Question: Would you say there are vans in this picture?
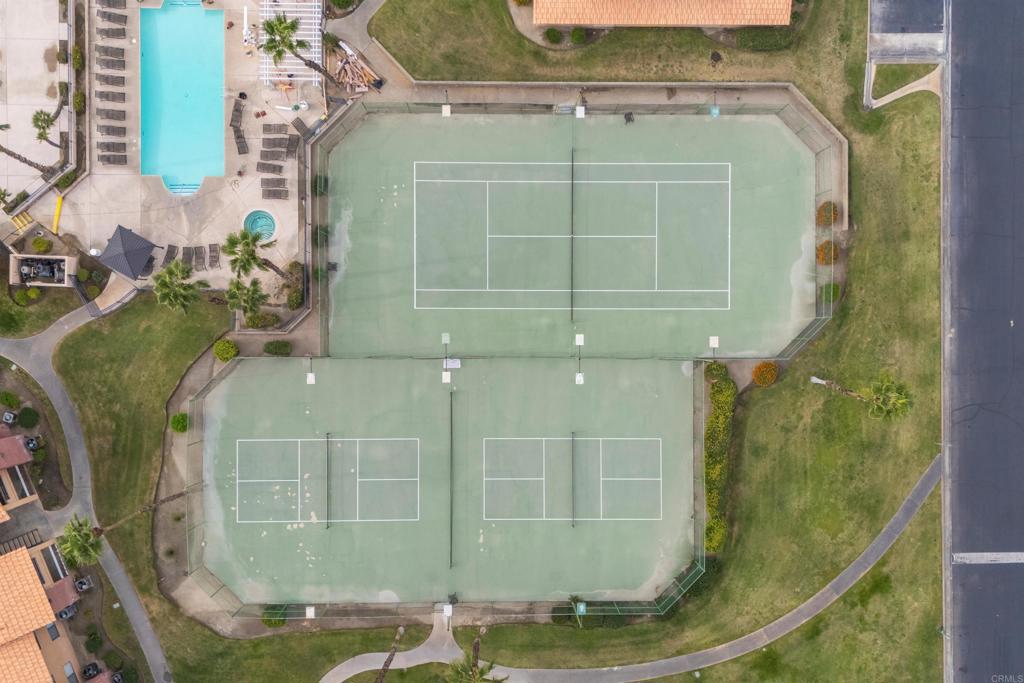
No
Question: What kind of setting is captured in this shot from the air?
sports ground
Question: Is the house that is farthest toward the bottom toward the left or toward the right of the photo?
left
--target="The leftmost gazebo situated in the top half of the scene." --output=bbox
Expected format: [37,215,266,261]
[98,224,176,285]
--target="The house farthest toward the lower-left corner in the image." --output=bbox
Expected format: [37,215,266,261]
[0,538,129,683]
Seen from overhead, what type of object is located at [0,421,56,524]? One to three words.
house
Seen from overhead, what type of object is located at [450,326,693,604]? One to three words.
sports court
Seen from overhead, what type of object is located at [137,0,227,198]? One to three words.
swimming pool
